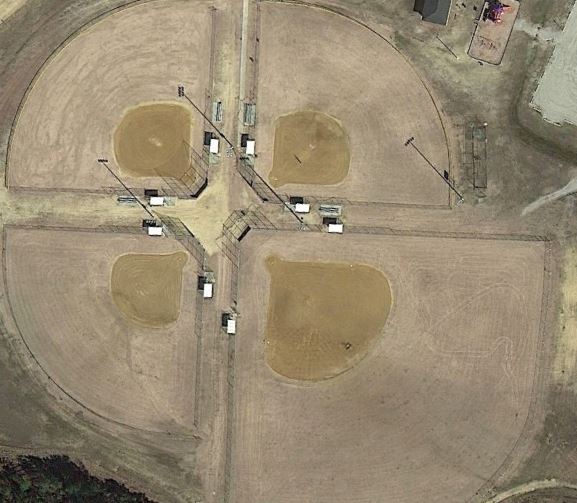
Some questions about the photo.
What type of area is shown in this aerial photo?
sports ground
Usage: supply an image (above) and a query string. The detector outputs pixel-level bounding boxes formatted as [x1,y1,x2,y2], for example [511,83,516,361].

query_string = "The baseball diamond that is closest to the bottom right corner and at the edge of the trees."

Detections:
[231,228,548,503]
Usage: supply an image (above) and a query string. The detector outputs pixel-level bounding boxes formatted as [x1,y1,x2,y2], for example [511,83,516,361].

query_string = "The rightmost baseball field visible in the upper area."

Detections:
[251,2,451,208]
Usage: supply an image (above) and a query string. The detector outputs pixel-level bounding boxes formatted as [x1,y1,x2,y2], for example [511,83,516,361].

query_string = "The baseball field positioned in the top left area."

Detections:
[8,0,214,198]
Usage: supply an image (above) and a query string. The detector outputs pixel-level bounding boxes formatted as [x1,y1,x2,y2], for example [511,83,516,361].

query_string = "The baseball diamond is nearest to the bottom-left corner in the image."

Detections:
[5,230,205,436]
